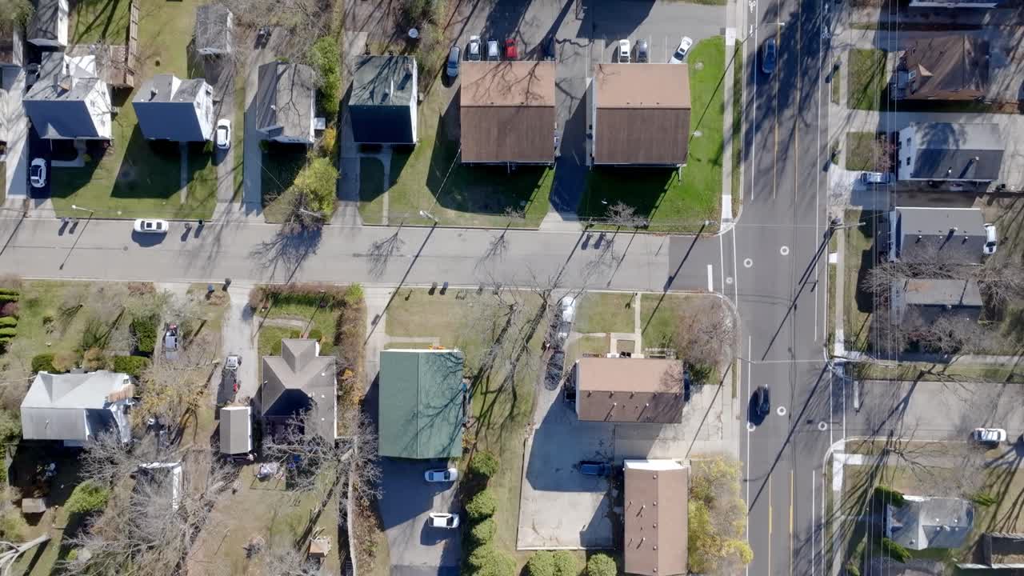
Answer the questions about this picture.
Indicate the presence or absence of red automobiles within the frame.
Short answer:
Yes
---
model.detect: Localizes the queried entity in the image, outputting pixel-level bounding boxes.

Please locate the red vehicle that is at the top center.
[503,36,519,61]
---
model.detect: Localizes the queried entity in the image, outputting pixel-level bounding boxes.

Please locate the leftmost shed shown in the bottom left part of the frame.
[20,496,51,513]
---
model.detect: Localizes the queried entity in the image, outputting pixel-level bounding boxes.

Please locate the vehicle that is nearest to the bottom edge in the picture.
[427,512,462,529]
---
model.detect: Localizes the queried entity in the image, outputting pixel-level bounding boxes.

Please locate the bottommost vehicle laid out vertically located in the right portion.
[754,382,772,417]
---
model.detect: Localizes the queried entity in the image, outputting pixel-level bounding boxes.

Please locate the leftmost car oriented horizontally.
[134,218,169,234]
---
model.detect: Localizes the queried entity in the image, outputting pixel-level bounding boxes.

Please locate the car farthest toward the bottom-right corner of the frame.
[972,427,1007,444]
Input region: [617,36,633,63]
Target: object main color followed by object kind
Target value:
white car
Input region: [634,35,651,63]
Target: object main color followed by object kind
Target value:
gray car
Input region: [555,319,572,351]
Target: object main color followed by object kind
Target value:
gray car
